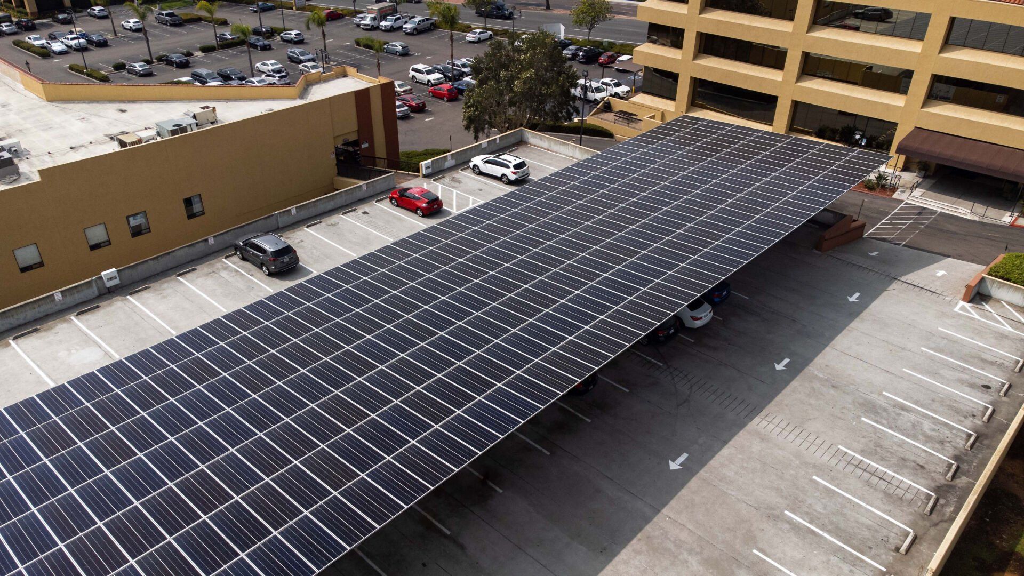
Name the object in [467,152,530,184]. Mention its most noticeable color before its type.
white car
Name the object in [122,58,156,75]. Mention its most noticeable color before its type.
gray car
